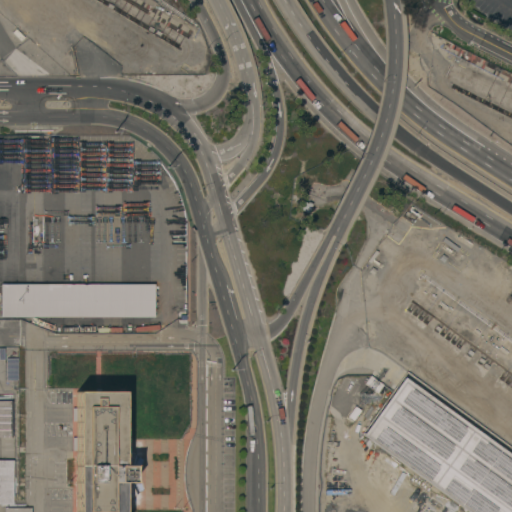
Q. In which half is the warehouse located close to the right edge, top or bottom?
bottom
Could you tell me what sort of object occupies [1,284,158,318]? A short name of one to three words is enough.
building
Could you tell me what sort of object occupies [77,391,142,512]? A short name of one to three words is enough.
building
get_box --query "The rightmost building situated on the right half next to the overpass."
[364,377,512,512]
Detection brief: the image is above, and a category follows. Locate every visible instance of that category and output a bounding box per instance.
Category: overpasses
[265,0,409,450]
